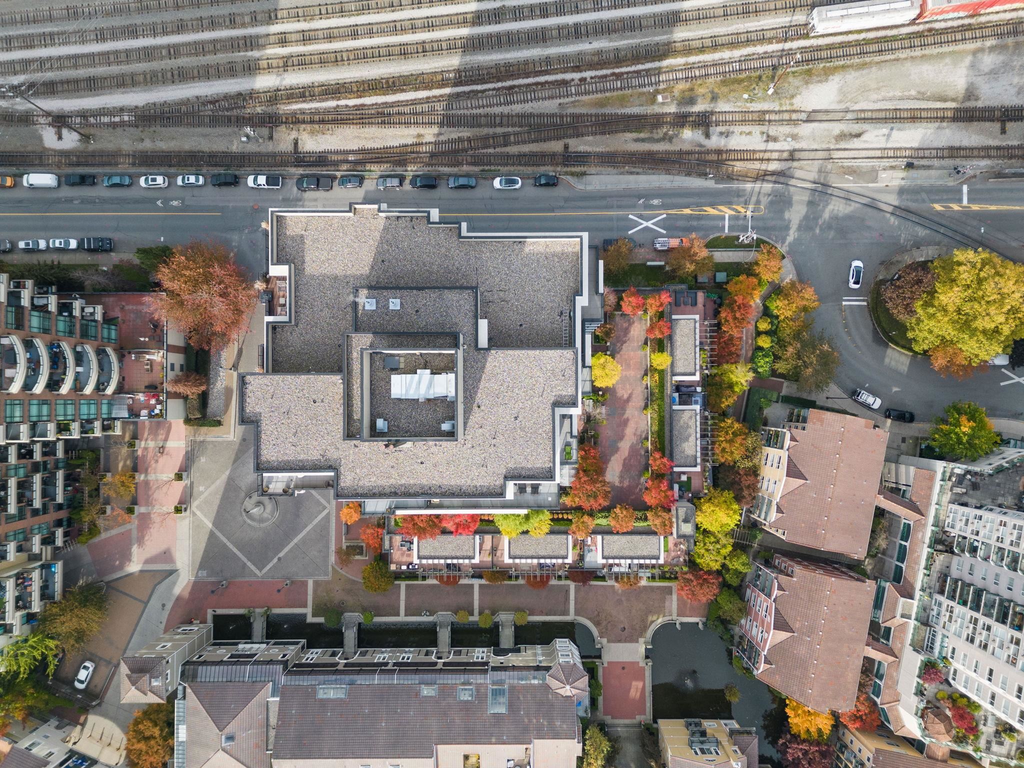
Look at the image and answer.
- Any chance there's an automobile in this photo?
Yes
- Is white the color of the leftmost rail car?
Yes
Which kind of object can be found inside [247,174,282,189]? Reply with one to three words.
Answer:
vehicle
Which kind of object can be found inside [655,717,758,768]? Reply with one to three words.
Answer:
house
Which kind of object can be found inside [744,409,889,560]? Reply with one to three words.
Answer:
house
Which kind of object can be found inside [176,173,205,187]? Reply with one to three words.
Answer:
car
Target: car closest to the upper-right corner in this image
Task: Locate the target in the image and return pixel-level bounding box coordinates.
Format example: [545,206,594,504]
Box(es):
[848,260,864,289]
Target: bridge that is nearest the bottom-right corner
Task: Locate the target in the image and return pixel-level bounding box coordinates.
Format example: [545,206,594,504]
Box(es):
[602,643,646,661]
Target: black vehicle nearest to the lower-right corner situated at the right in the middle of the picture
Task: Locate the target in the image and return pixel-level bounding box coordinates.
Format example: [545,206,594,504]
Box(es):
[885,409,915,423]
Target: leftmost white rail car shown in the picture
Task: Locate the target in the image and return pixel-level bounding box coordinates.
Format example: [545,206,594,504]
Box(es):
[811,0,925,32]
